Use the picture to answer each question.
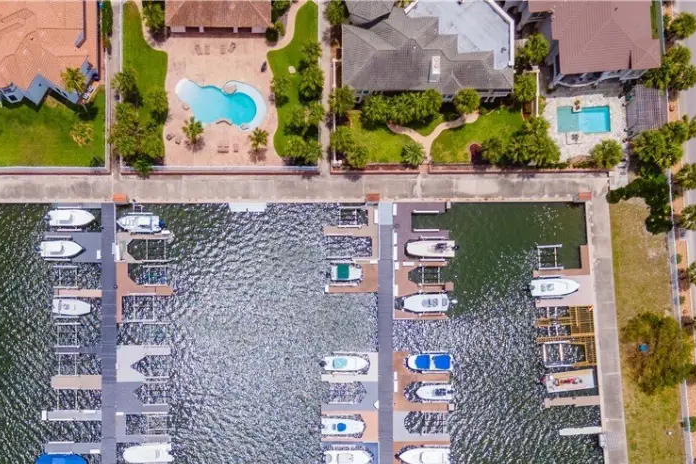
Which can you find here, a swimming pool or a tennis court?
swimming pool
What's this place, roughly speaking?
residential area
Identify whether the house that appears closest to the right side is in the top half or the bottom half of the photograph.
top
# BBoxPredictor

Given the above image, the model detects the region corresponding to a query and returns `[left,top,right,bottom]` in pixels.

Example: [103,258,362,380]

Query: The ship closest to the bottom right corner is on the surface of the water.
[543,371,594,391]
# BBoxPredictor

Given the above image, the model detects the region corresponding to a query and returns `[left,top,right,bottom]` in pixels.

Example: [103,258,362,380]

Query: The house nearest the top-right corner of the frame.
[518,0,661,93]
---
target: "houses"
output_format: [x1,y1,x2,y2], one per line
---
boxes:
[165,0,272,35]
[341,0,515,106]
[0,0,102,108]
[518,0,661,93]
